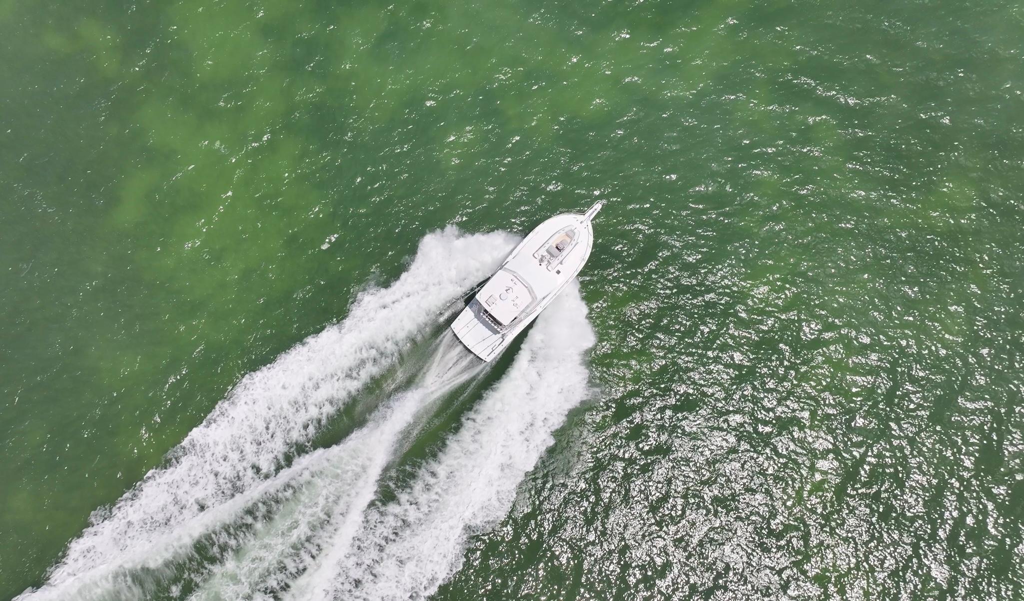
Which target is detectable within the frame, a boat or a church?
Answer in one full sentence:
It is a boat that can be seen here.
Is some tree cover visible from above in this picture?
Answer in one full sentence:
No, the scene doesn't show any tree cover.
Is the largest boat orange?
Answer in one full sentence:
No, from above the largest boat looks white.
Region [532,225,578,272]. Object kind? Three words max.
boat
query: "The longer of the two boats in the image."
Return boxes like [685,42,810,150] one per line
[423,199,606,364]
